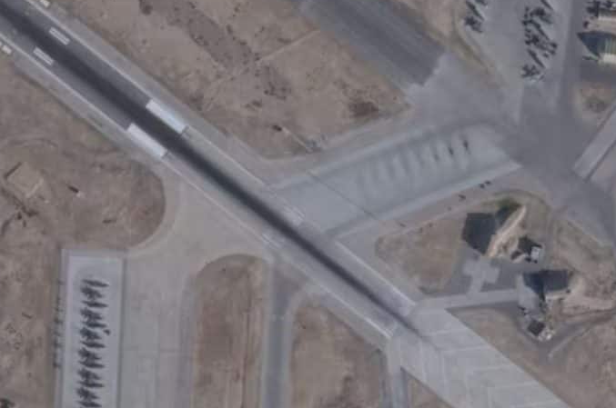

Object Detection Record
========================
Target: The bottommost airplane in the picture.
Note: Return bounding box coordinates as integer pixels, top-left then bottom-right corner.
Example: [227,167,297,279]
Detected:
[81,388,101,404]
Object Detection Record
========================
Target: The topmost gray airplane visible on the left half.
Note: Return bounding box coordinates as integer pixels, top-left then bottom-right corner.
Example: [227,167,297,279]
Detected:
[86,285,106,300]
